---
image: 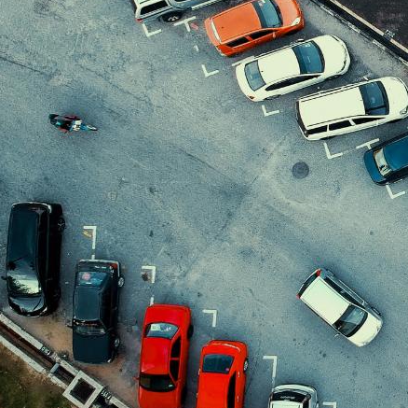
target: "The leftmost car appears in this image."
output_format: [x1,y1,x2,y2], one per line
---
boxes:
[1,202,67,318]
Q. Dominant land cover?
paved ground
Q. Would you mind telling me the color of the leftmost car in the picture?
black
